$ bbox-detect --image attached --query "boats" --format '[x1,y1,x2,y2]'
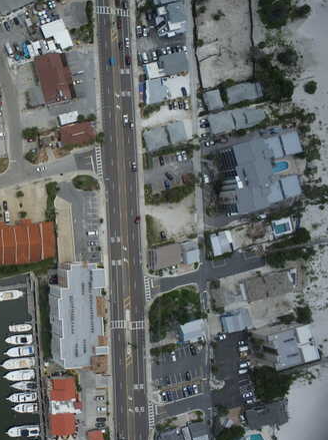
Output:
[4,335,33,345]
[12,405,39,413]
[6,426,40,437]
[11,382,37,393]
[1,359,35,370]
[4,372,36,382]
[6,393,38,403]
[6,347,34,356]
[8,325,32,331]
[0,290,22,300]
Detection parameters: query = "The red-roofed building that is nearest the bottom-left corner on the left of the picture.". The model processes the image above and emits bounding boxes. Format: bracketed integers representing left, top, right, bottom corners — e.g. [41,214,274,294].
[50,412,76,435]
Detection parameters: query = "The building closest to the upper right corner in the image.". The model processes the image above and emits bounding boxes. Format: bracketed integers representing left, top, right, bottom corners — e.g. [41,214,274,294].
[225,82,263,104]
